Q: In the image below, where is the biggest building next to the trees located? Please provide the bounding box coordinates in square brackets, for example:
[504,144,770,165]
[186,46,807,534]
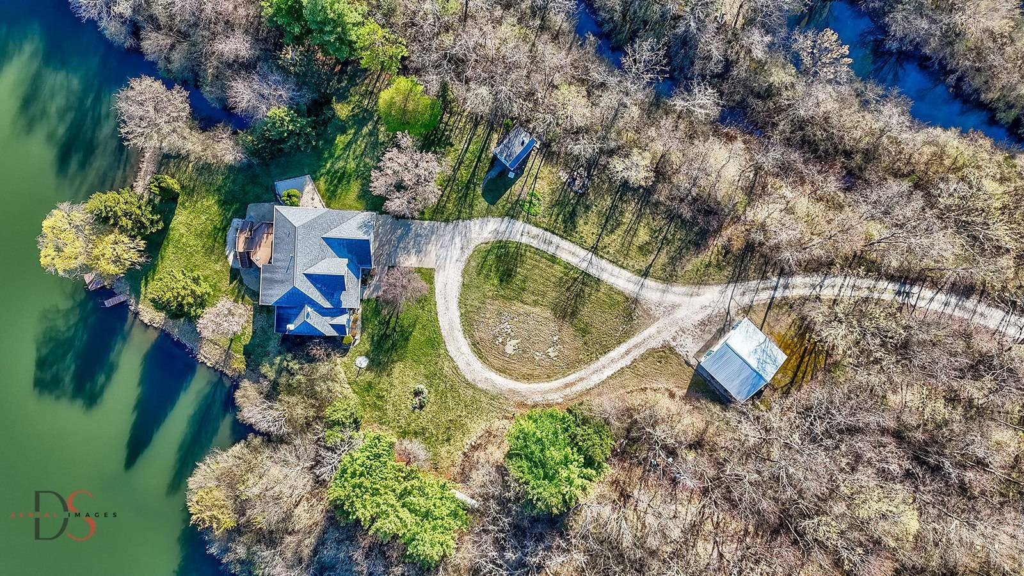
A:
[259,206,378,336]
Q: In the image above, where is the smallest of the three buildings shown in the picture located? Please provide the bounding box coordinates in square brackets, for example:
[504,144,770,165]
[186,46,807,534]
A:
[493,125,538,171]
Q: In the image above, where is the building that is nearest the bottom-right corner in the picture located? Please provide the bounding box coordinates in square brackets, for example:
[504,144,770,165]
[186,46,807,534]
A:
[697,317,788,404]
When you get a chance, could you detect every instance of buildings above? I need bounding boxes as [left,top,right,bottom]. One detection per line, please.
[697,317,788,404]
[259,206,378,336]
[493,125,538,171]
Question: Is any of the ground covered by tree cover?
Yes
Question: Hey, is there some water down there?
Yes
